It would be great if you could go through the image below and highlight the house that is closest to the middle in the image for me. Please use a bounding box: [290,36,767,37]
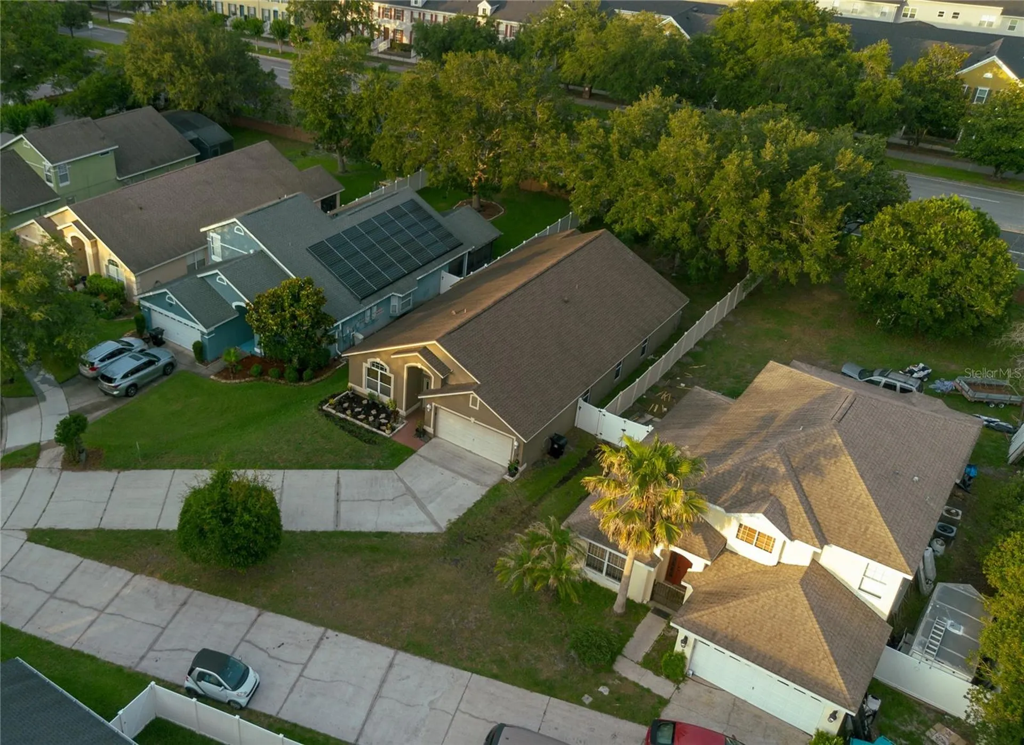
[340,229,688,473]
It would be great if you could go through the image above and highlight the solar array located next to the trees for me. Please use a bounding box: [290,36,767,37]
[307,199,461,300]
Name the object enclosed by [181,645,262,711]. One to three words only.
car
